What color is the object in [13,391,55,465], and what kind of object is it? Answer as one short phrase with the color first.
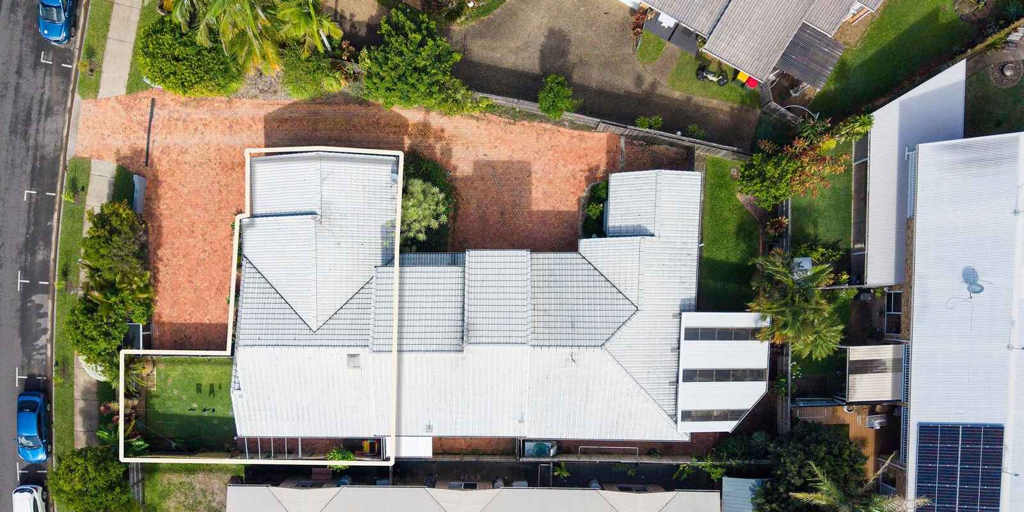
blue car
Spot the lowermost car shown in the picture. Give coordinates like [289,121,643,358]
[11,484,51,512]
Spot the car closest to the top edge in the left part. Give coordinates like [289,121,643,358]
[32,0,74,45]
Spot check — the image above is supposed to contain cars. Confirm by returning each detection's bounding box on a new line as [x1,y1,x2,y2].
[11,484,51,512]
[13,391,55,465]
[32,0,74,45]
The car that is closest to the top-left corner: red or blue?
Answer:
blue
